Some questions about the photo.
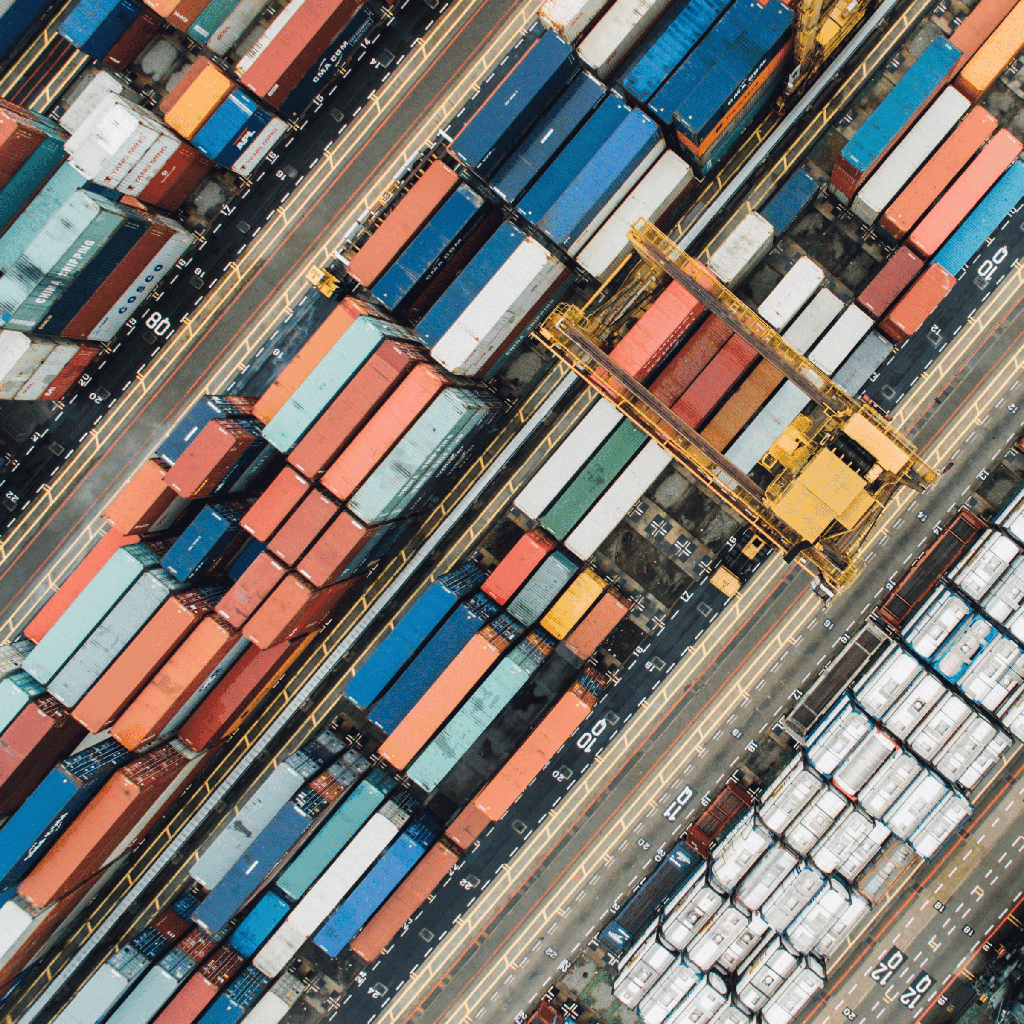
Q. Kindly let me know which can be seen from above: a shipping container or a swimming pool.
shipping container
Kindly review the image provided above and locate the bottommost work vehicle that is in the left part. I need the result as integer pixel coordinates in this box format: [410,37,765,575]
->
[297,247,355,297]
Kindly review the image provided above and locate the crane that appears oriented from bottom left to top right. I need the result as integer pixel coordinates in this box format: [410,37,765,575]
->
[769,0,890,121]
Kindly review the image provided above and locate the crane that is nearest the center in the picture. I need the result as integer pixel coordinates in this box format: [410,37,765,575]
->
[528,213,957,603]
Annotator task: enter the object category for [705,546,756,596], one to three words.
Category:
work vehicle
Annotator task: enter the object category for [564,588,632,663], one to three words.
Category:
shipping container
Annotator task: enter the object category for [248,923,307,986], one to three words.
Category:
shipping container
